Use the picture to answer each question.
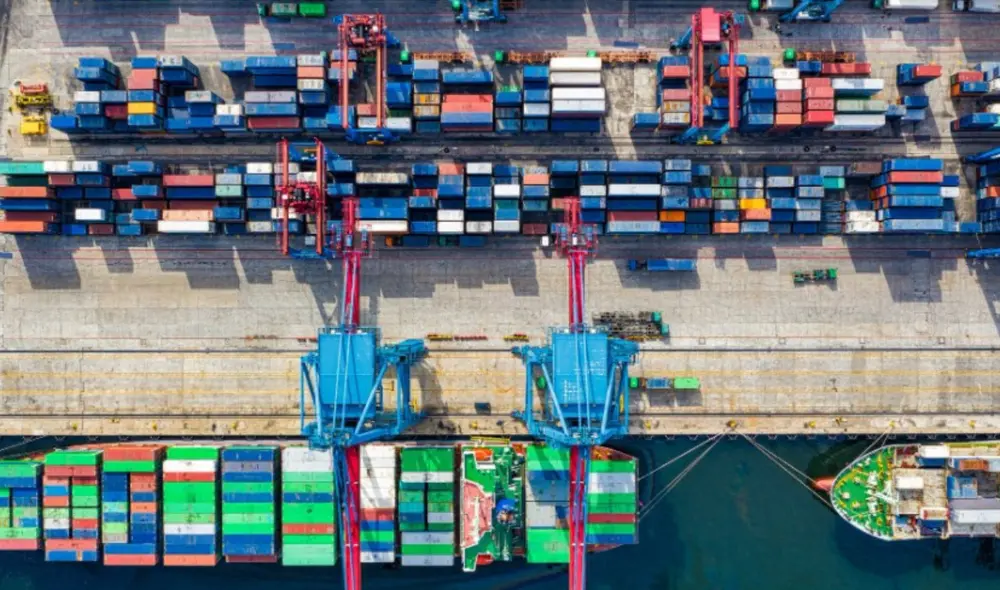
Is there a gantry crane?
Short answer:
Yes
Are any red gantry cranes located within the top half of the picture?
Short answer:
Yes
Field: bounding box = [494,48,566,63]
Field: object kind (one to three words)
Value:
vehicle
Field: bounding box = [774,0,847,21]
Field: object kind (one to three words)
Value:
container crane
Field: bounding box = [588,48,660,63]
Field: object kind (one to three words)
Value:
vehicle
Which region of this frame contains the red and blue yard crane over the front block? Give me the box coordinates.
[278,138,353,260]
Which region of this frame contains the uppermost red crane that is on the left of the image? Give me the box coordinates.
[339,13,406,148]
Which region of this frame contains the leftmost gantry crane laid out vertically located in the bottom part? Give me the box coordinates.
[300,195,436,590]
